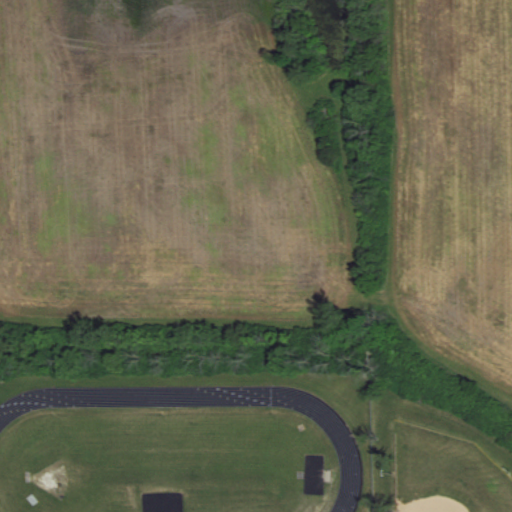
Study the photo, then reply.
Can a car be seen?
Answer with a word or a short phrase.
No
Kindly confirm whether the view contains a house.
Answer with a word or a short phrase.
No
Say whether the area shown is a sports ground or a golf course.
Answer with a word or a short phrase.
sports ground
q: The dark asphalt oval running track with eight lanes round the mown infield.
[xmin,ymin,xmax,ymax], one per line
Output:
[0,386,363,512]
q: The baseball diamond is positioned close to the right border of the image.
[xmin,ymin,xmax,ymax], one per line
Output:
[396,421,512,512]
